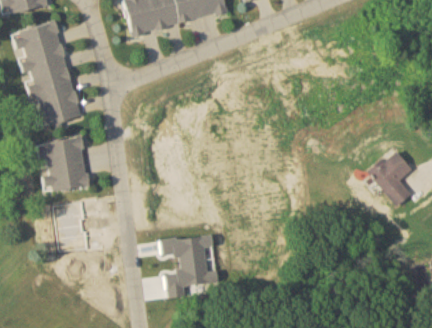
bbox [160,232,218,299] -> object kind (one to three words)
house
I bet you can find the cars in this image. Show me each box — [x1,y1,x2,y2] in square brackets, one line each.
[412,192,424,204]
[137,257,143,268]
